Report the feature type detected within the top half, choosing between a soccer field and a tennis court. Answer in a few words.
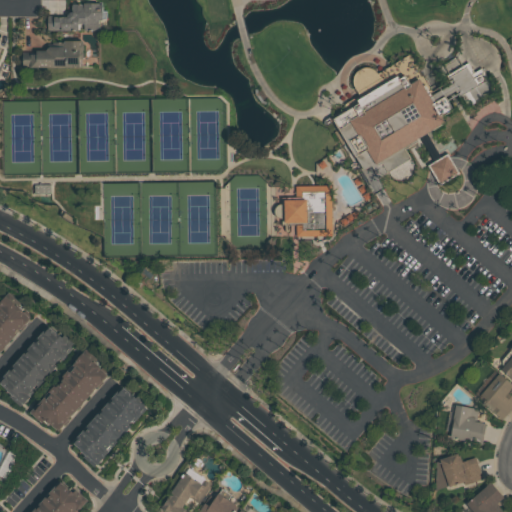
tennis court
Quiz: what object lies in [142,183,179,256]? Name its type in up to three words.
tennis court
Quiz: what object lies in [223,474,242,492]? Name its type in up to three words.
swimming pool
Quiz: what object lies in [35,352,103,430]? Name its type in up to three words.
building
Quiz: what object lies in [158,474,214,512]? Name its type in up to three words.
house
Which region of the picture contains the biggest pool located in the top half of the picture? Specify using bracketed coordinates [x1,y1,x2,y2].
[337,174,364,207]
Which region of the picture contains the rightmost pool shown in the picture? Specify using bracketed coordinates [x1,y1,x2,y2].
[452,388,474,406]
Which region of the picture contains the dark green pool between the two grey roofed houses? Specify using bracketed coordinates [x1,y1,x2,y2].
[82,34,98,50]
